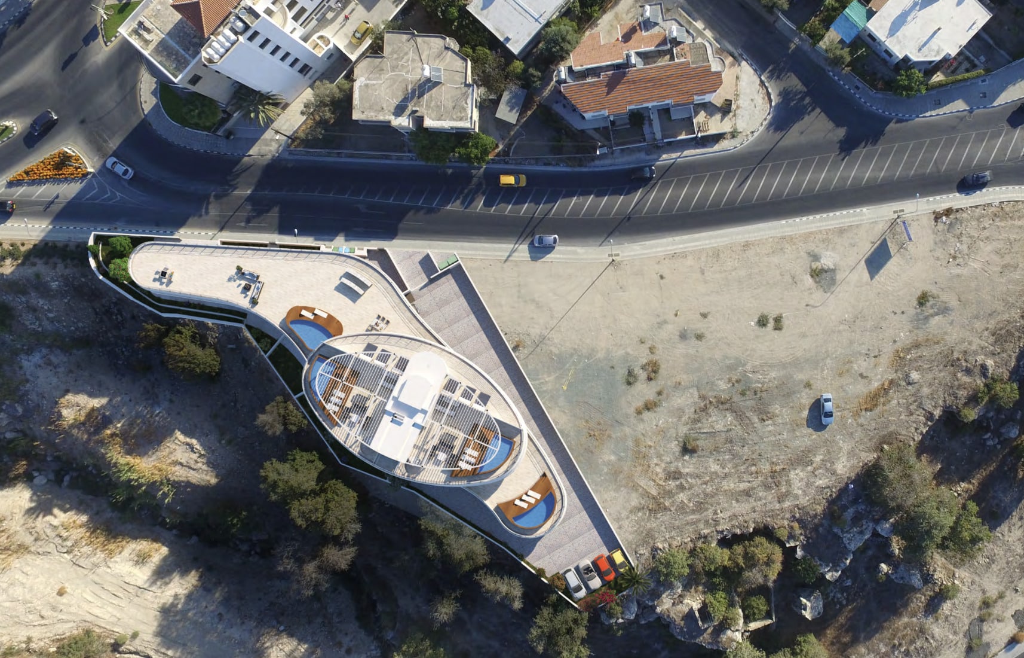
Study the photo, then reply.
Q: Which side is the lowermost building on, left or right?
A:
left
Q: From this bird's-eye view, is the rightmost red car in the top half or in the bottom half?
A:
bottom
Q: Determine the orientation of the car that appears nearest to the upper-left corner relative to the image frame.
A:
diagonally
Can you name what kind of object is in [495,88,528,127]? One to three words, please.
shed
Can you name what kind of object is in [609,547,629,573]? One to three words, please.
car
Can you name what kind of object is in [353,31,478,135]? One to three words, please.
house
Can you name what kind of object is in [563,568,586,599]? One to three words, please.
car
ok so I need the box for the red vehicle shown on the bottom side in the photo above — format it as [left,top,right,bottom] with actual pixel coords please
[594,553,615,581]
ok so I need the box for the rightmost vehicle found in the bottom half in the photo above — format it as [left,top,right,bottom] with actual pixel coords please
[819,394,834,425]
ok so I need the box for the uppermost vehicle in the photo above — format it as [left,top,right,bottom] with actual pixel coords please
[352,19,372,47]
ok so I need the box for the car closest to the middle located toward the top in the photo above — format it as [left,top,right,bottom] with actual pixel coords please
[534,234,559,247]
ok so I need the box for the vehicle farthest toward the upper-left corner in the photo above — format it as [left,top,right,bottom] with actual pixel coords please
[30,109,58,134]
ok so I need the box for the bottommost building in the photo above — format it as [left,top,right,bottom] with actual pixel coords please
[128,241,567,537]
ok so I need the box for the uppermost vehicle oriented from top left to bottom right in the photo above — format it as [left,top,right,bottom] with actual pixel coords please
[105,156,134,181]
